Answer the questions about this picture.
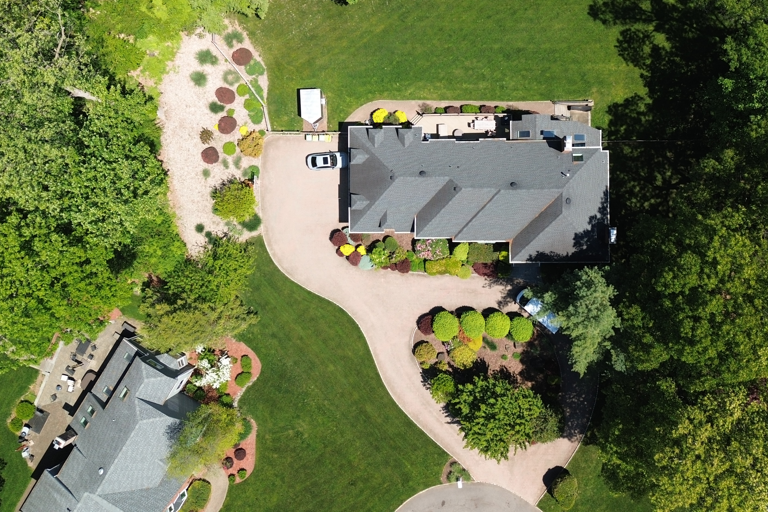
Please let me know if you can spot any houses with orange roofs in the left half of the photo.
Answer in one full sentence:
No, I see no house with an orange roof in the left half of the photo.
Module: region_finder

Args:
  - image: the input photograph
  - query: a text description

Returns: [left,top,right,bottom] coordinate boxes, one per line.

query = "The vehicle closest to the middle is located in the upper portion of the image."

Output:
[307,151,349,170]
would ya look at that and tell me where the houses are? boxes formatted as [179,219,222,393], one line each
[348,114,617,268]
[21,335,200,512]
